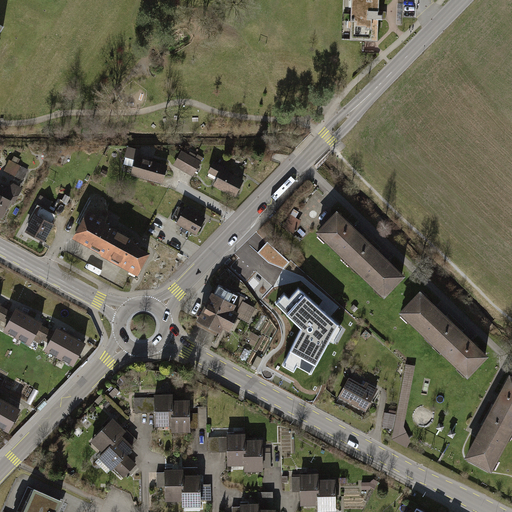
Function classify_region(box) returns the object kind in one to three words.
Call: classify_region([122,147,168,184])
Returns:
house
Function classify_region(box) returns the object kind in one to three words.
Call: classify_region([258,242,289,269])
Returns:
building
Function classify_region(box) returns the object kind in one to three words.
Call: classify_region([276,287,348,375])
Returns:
building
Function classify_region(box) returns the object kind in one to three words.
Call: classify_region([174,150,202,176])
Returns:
house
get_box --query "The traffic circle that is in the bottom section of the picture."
[129,310,158,340]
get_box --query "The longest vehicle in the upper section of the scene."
[272,178,296,200]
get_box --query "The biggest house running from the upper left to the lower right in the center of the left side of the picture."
[72,214,152,281]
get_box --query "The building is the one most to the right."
[465,372,512,472]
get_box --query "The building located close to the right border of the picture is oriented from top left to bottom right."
[398,294,488,378]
